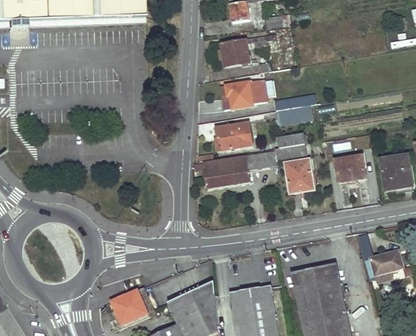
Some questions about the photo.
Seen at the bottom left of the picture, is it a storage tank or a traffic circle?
traffic circle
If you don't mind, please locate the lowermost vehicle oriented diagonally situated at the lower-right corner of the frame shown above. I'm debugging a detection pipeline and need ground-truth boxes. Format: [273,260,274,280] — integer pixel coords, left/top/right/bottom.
[350,304,368,319]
